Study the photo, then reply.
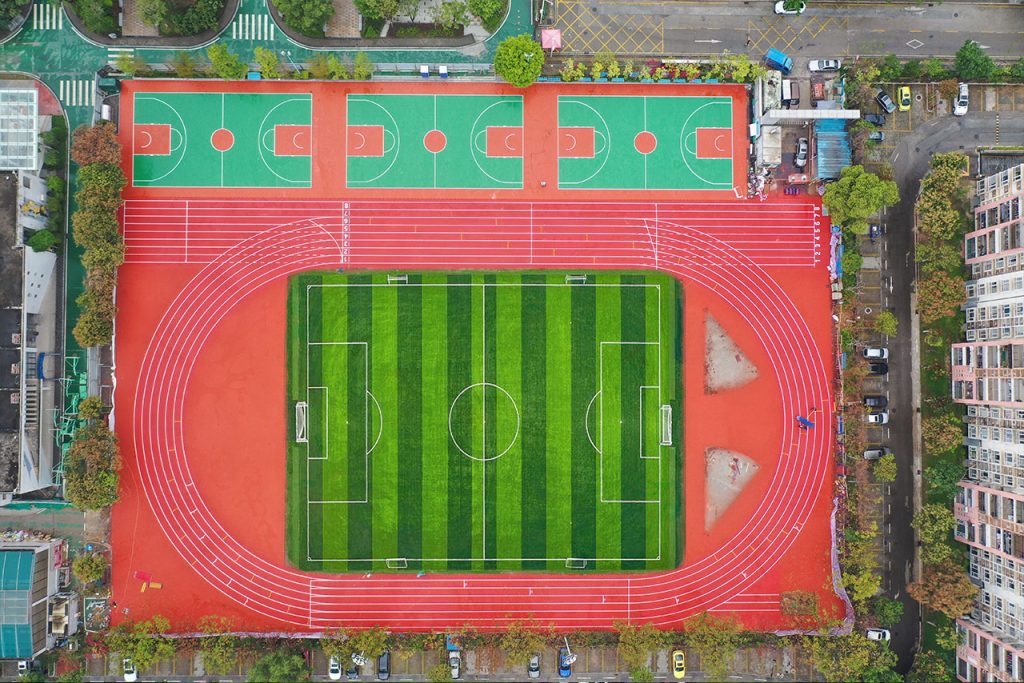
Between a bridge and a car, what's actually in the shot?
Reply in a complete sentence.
The image shows a car.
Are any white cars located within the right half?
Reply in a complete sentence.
Yes, looking within the right half, one can make out a white car.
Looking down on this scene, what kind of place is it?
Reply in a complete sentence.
This looks like a sports ground.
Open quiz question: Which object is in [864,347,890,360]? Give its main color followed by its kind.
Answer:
white vehicle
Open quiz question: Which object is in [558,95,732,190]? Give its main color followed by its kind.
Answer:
green basketball court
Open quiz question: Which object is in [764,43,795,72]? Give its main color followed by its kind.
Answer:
blue truck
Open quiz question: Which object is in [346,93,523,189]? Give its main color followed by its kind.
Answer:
green basketball court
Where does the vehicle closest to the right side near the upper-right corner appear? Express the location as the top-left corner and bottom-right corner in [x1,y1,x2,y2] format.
[955,80,974,113]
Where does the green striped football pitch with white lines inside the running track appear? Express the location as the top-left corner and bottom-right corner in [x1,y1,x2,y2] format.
[287,270,684,574]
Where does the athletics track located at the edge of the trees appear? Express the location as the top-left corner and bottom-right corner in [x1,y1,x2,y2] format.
[110,197,846,636]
